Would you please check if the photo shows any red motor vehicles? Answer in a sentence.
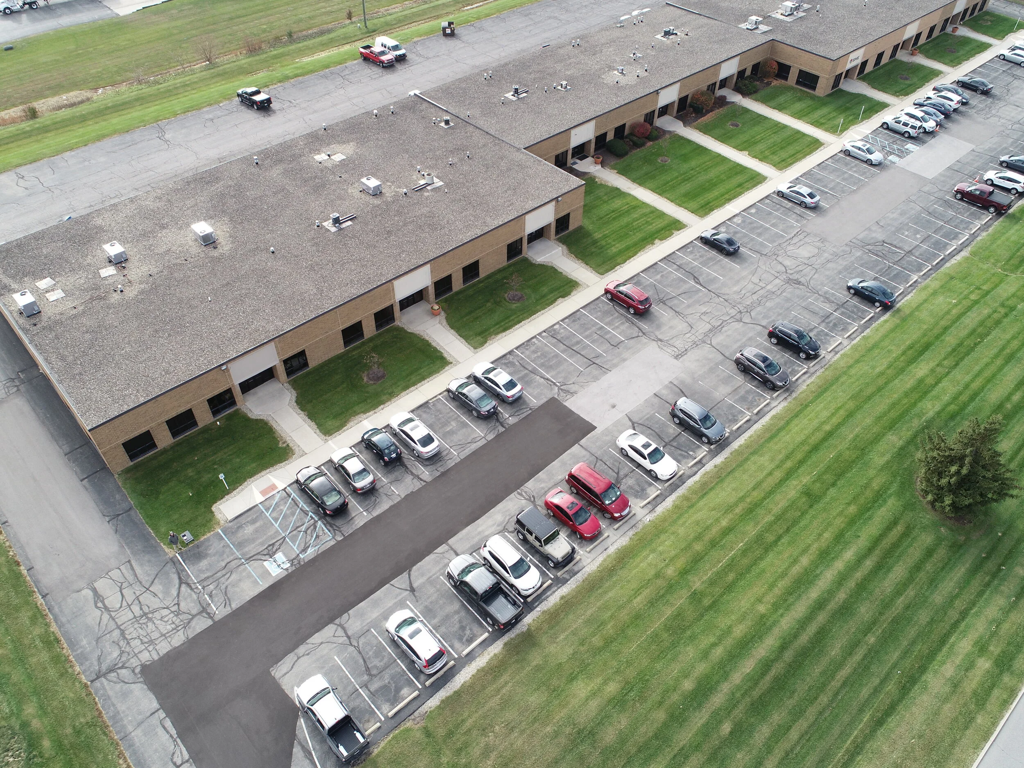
Yes, you can see a red motor vehicle in this photo.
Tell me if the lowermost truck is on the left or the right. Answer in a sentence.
It is on the left.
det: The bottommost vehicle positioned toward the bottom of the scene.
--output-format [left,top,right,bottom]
[295,675,385,768]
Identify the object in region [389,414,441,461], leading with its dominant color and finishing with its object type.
white car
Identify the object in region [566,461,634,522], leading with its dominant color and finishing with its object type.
red car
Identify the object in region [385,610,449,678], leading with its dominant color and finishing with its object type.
white car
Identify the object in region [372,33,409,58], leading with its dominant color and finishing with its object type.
white vehicle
